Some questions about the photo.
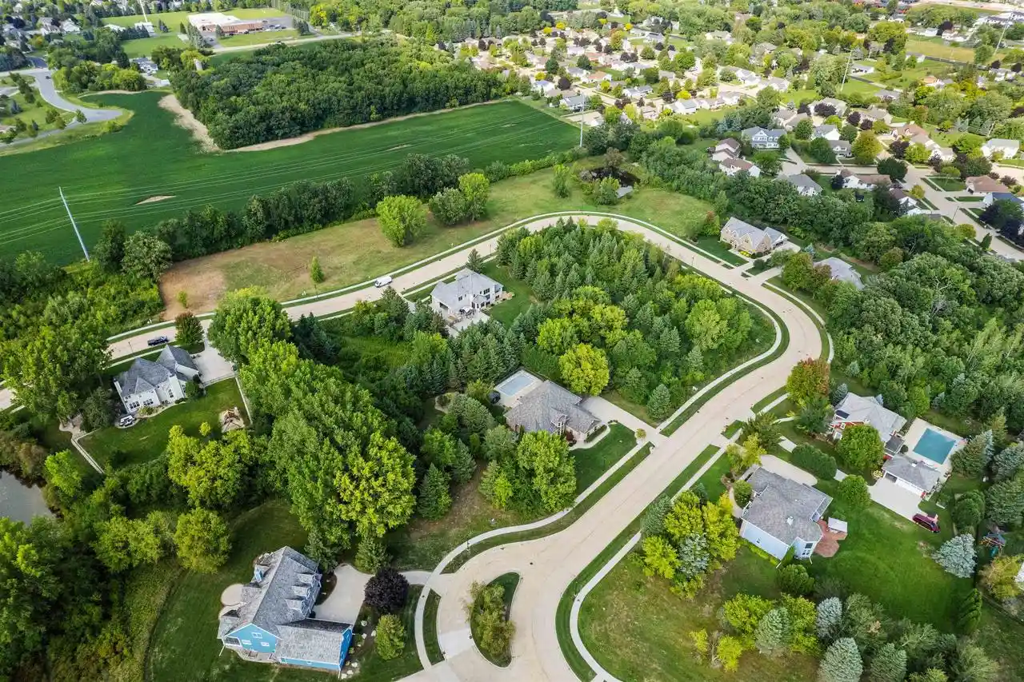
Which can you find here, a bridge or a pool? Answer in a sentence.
The one in the frame is a pool.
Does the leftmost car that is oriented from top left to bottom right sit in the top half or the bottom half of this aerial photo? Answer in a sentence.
It is in the bottom half that the leftmost car that is oriented from top left to bottom right appears.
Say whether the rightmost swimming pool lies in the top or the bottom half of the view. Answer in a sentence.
The rightmost swimming pool is in the bottom half of the image.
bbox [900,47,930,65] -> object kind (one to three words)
house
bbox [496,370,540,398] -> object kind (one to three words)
swimming pool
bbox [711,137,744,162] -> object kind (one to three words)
house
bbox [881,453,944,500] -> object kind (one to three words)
building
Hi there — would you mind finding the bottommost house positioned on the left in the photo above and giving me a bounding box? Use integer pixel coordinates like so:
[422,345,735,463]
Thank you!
[212,544,353,672]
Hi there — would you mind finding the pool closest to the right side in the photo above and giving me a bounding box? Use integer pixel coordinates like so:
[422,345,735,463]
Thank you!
[911,426,958,466]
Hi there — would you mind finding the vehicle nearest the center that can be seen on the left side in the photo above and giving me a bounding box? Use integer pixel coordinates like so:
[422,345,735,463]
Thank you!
[374,274,393,287]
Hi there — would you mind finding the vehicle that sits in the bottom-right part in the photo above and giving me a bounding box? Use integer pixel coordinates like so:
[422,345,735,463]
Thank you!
[913,511,941,532]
